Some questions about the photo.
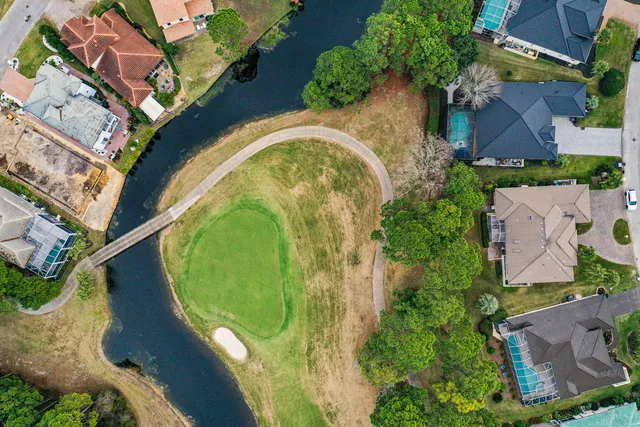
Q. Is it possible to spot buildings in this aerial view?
Yes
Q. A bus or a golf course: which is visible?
golf course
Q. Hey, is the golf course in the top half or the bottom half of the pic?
bottom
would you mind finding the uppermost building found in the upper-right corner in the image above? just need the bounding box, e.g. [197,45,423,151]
[502,0,608,66]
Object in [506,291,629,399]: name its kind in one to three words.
house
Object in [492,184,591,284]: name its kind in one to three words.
house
